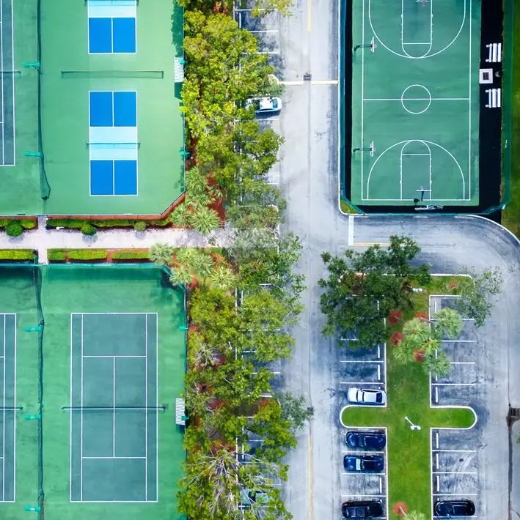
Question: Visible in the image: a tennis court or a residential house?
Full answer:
It is a tennis court that can be seen here.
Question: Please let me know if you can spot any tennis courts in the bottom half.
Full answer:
Yes, you'll find a tennis court in the bottom half.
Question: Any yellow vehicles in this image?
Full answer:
No, the picture doesn't show any yellow vehicle.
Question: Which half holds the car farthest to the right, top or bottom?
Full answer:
It is in the bottom half that the car farthest to the right appears.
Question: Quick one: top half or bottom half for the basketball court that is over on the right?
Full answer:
It is in the top half that the basketball court that is over on the right appears.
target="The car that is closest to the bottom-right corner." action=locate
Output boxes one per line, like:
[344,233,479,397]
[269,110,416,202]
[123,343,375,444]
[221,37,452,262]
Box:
[433,498,474,519]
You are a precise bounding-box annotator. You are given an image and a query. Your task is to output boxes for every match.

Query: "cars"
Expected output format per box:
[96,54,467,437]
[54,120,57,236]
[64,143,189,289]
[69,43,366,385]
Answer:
[342,455,383,473]
[346,387,385,405]
[342,498,383,519]
[247,96,284,113]
[345,431,385,450]
[433,498,474,519]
